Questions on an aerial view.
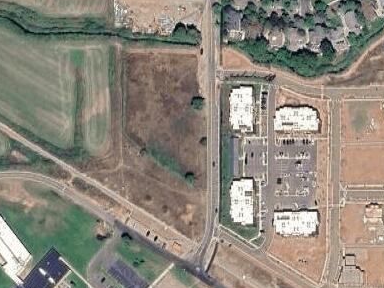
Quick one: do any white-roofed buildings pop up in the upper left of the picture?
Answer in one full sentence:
No, no white-roofed building is visible in the upper left of the picture.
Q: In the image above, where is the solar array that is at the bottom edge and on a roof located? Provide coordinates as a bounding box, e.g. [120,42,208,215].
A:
[23,250,66,288]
